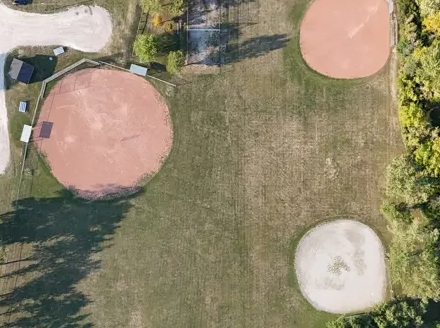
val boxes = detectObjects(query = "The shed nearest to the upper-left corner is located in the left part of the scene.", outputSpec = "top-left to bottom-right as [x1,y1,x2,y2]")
[7,58,35,85]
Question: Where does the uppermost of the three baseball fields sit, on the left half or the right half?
right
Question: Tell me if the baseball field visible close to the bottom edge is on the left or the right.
right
